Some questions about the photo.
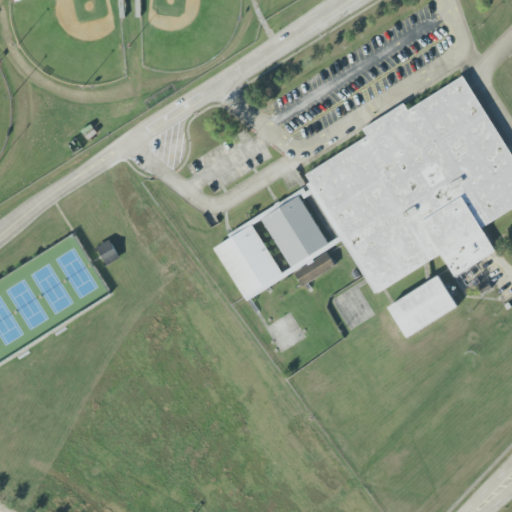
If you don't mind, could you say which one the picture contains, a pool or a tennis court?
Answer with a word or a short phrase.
tennis court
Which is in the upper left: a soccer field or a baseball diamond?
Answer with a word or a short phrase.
baseball diamond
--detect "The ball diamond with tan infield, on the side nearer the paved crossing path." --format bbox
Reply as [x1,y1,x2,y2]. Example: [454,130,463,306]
[148,0,200,30]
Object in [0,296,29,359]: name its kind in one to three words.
tennis court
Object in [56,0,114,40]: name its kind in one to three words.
baseball field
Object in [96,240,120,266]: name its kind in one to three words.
shed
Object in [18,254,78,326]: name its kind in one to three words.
tennis court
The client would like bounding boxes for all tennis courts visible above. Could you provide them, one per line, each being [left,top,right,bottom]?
[0,296,29,359]
[0,270,54,341]
[18,254,78,326]
[43,236,109,310]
